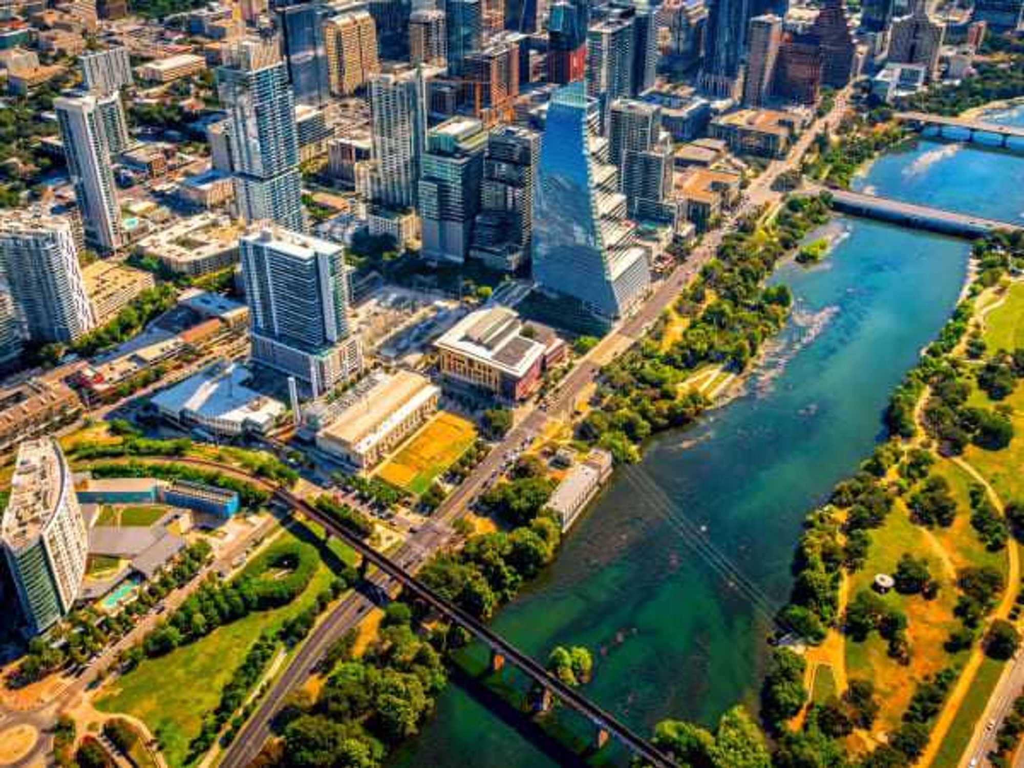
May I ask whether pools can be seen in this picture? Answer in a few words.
Yes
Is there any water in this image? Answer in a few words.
Yes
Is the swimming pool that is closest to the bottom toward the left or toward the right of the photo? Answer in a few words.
left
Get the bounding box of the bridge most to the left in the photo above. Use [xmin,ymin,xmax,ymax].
[276,491,686,768]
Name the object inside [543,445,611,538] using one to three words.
building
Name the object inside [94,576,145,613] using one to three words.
swimming pool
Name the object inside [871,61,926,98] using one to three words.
building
